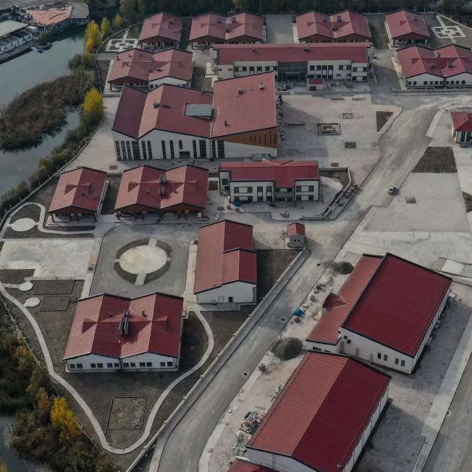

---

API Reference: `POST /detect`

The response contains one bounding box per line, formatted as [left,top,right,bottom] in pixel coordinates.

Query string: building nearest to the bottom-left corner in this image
[63,291,184,371]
